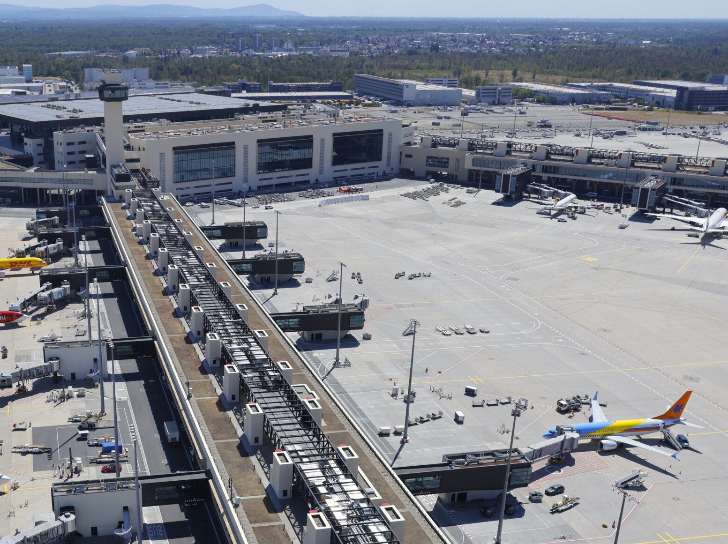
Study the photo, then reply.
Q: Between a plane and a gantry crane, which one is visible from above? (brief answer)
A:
plane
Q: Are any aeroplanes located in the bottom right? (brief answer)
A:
Yes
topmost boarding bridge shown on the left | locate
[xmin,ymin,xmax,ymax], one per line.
[22,215,57,234]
